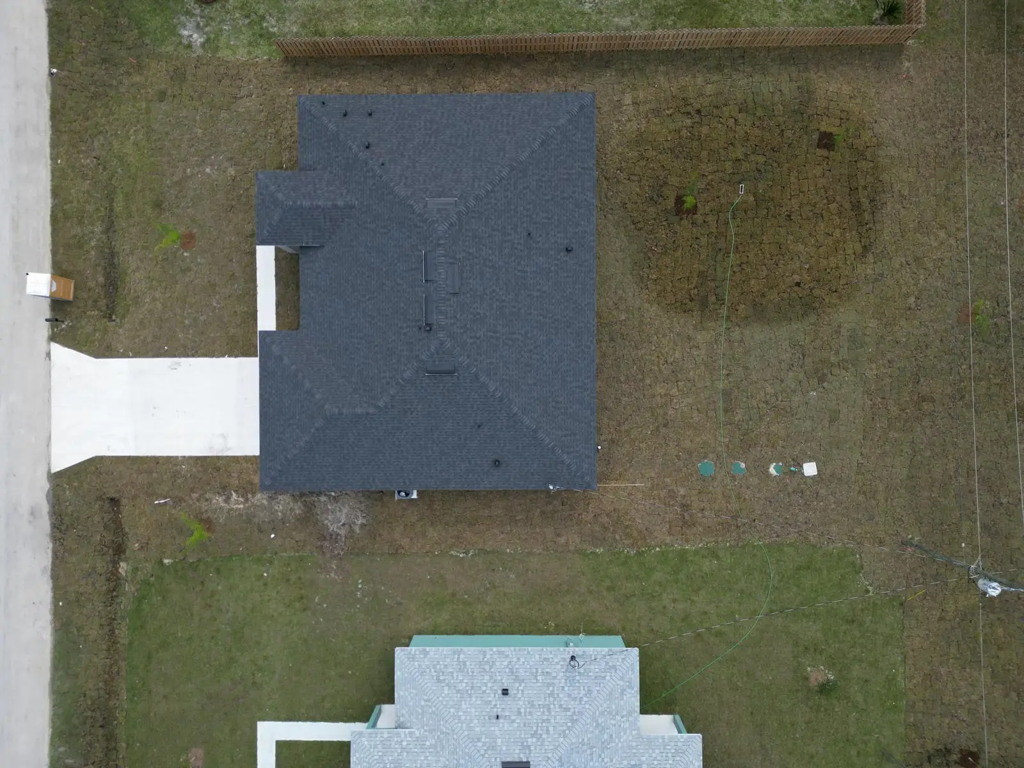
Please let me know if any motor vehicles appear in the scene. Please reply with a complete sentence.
No, the scene contains no motor vehicle.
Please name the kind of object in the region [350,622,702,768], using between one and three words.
house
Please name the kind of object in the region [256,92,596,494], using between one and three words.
house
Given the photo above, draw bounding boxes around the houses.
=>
[350,622,702,768]
[256,92,596,494]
